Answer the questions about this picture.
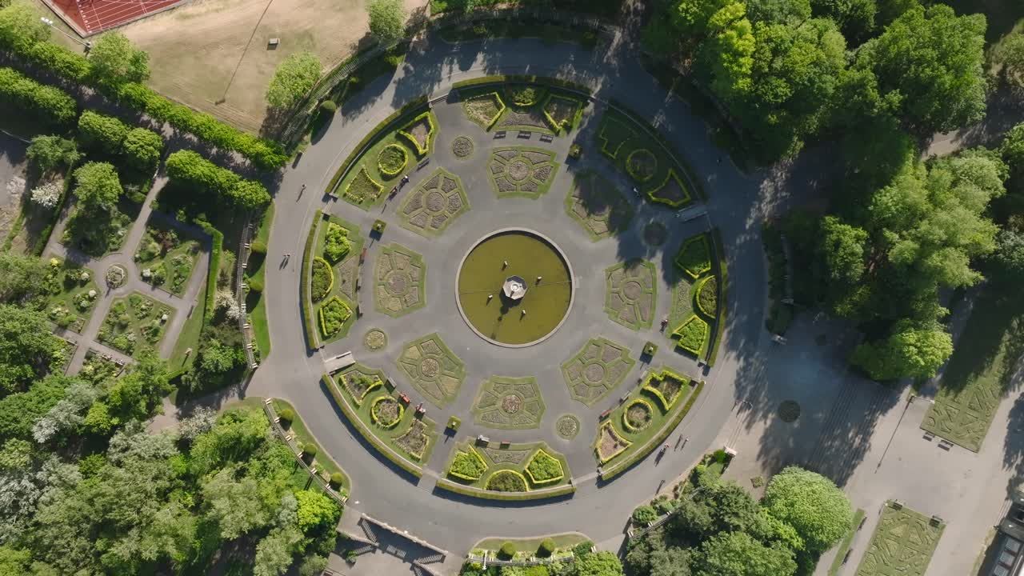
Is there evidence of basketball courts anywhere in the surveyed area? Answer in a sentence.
No, no basketball court is visible in the view.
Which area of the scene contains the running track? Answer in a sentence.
The running track appears toward the top left of the photo.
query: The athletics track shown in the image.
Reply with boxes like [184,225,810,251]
[45,0,193,40]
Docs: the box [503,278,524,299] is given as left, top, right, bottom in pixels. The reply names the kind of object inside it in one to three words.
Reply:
fountain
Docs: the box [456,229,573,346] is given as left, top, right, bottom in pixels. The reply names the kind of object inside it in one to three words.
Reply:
pond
